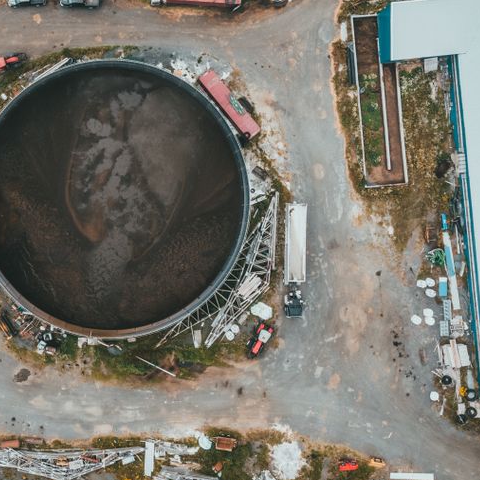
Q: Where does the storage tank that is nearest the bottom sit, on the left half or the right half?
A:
left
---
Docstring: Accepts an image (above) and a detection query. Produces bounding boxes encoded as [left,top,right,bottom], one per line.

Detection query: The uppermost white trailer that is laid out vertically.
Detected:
[281,201,307,287]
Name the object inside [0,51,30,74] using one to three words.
work vehicle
